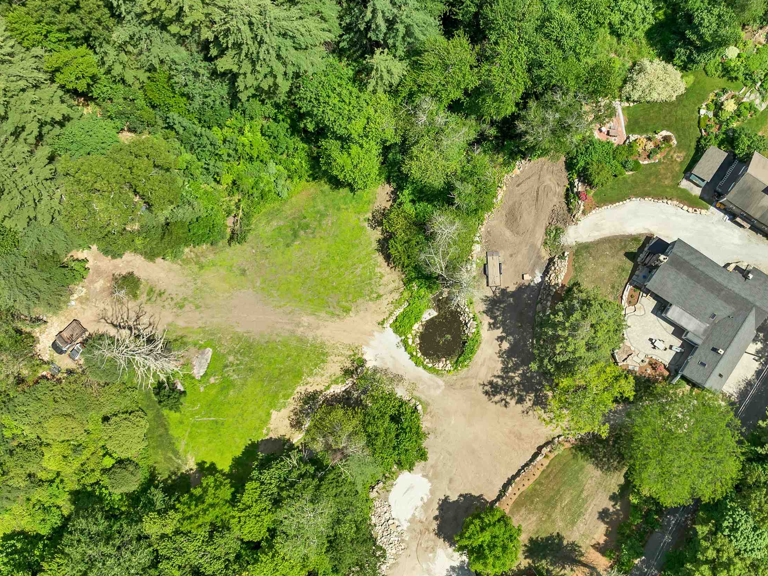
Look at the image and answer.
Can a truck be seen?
Yes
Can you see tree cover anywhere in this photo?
Yes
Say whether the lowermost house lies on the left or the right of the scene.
right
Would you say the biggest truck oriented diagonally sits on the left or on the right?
left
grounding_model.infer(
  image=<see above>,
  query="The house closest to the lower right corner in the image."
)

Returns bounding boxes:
[645,238,768,391]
